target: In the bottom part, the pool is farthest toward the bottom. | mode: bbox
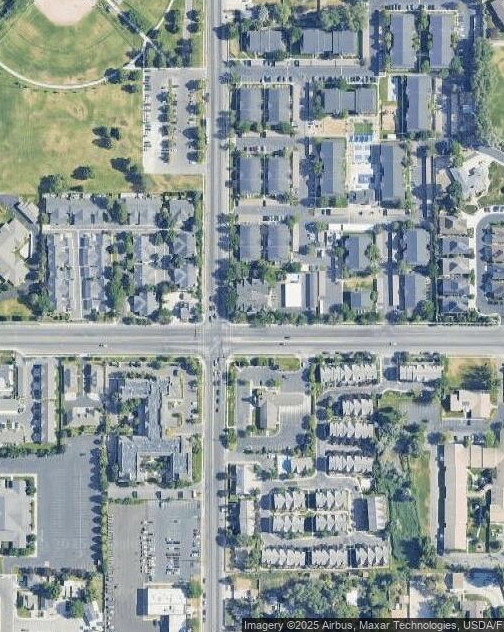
[278,457,291,473]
